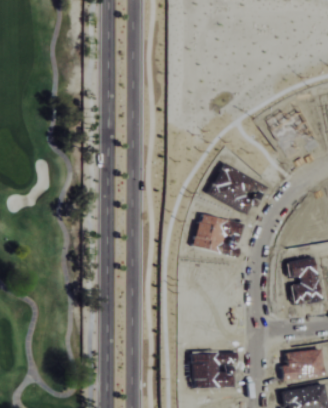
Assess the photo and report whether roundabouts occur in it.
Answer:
No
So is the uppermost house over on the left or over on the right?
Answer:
right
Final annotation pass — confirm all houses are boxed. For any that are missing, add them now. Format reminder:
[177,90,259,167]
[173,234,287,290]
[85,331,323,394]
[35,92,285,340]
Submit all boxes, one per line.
[211,166,268,214]
[194,214,244,256]
[192,354,238,388]
[288,258,324,304]
[280,386,328,408]
[284,351,326,382]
